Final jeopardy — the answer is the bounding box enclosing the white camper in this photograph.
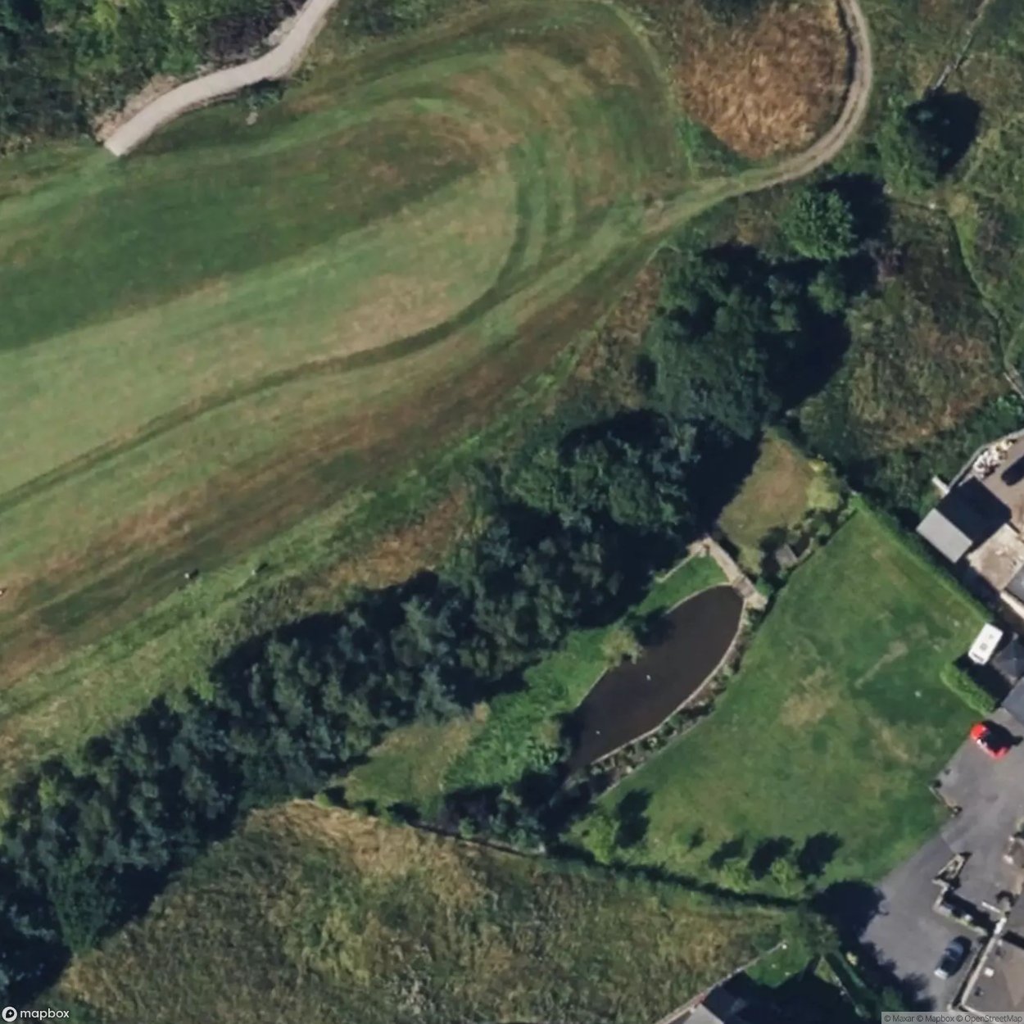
[970,624,1004,665]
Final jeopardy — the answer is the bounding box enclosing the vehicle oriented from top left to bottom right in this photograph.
[969,725,1010,762]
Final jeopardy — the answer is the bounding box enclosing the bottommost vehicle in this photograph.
[936,935,970,980]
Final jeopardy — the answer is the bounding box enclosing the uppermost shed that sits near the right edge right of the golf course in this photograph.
[918,508,976,563]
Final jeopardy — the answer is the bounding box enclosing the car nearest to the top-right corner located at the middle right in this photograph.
[1002,451,1024,482]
